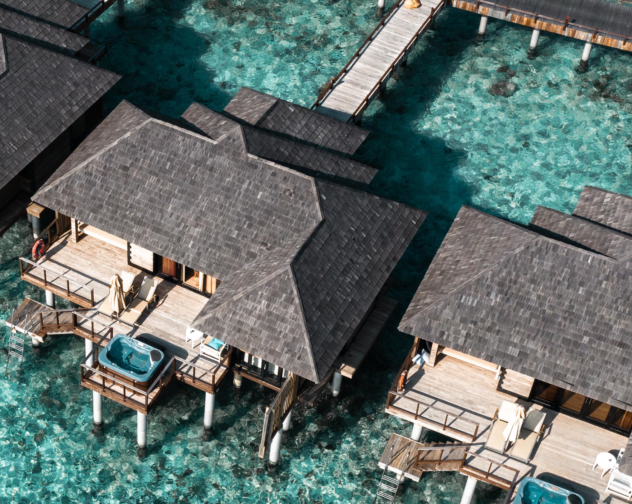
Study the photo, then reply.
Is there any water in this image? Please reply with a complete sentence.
Yes, water can be seen from above here.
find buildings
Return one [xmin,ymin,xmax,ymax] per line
[365,185,632,504]
[4,87,431,464]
